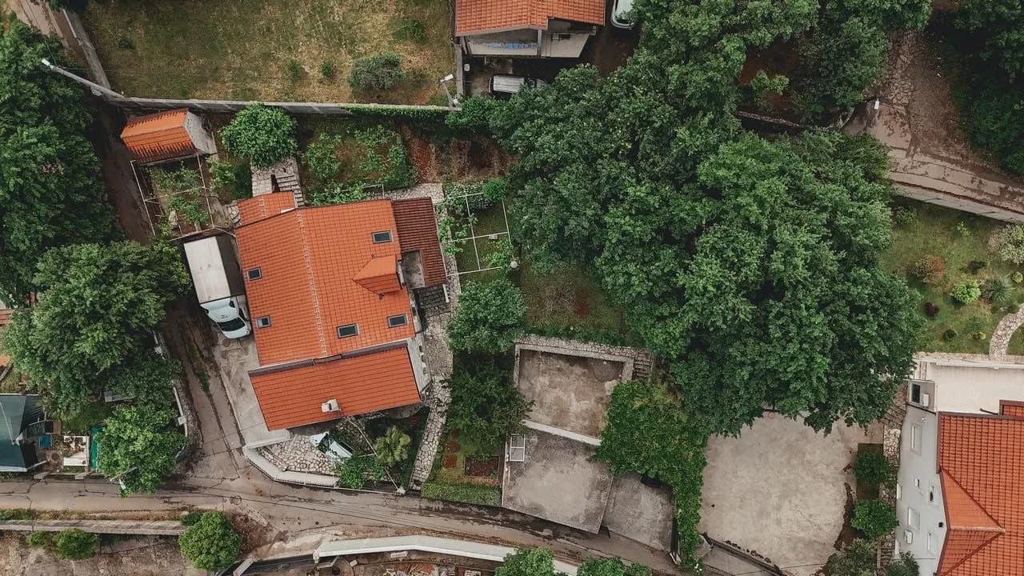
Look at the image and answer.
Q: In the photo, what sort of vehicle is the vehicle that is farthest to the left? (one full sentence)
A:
The vehicle that is farthest to the left appears to be a truck.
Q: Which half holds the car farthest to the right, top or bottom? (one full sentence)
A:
You can find the car farthest to the right in the top half.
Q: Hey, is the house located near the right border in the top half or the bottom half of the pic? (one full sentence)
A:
The house located near the right border is in the bottom half of the image.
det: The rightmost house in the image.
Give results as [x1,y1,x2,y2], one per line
[894,361,1024,576]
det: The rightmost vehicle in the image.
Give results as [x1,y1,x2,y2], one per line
[608,0,641,35]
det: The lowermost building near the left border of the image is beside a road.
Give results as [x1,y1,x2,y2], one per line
[0,392,55,473]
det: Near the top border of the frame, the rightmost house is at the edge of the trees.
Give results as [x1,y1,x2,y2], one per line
[455,0,605,67]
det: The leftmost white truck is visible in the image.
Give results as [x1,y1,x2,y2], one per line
[183,234,252,345]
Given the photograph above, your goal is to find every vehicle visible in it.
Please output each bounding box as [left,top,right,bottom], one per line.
[487,66,551,98]
[183,234,252,345]
[608,0,641,35]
